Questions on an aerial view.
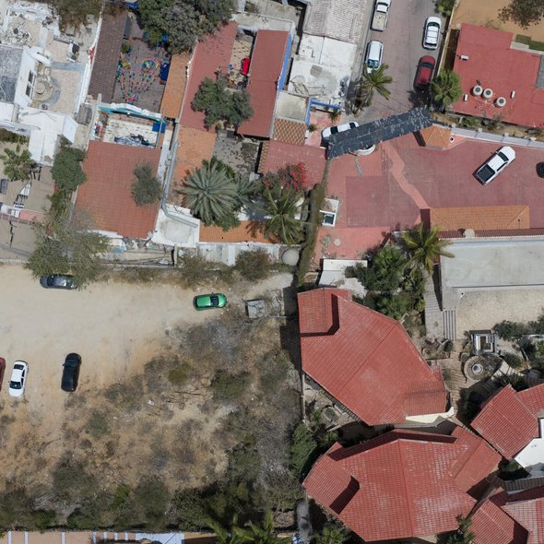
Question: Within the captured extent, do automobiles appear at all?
Yes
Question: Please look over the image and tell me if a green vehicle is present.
Yes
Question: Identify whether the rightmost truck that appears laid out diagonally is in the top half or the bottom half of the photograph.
top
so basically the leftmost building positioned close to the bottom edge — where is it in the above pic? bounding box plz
[303,428,501,542]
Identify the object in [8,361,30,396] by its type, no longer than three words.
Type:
car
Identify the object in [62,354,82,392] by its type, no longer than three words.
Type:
car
